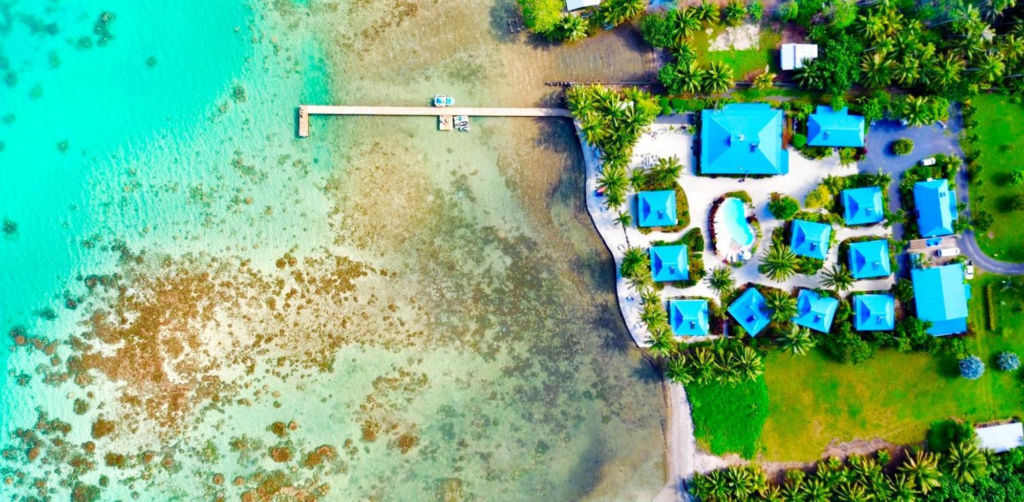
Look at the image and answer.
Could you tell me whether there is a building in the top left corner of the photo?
No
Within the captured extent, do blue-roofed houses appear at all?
Yes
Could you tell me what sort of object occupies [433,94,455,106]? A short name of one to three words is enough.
boat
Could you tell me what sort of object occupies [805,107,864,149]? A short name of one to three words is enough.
building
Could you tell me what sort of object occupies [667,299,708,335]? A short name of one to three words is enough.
house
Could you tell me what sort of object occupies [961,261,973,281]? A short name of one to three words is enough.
vehicle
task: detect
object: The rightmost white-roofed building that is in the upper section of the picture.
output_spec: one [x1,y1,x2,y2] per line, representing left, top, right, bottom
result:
[778,43,818,71]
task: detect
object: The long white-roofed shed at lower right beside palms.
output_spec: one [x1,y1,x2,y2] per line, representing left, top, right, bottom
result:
[972,421,1024,453]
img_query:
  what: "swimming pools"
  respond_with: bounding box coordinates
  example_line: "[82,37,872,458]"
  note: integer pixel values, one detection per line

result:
[720,197,755,247]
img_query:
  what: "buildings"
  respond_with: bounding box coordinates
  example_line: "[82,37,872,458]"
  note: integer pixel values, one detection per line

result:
[701,101,788,174]
[635,191,676,227]
[972,421,1024,453]
[724,288,771,336]
[835,187,882,225]
[851,295,893,330]
[911,181,956,237]
[647,245,689,281]
[844,240,889,278]
[778,43,818,71]
[903,263,968,336]
[667,299,708,335]
[805,107,864,149]
[566,0,600,14]
[788,289,838,329]
[786,220,831,259]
